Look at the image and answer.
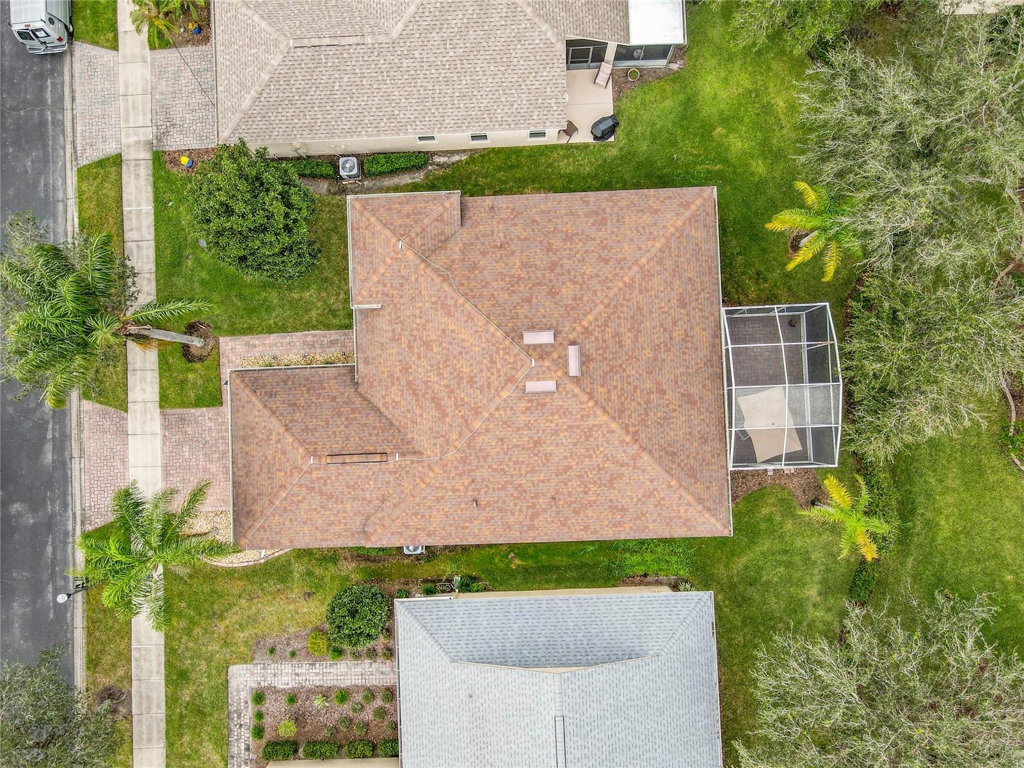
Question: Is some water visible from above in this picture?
No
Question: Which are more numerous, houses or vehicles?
houses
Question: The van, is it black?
No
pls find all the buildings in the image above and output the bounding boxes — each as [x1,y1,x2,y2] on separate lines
[211,0,686,157]
[226,186,735,550]
[269,586,721,768]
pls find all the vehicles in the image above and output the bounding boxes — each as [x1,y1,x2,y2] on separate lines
[2,0,72,54]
